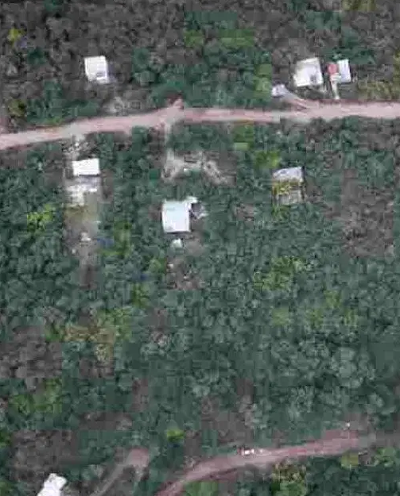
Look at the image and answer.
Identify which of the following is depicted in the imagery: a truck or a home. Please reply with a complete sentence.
The one in the frame is a home.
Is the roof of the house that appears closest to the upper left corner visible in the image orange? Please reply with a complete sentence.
No, from above the roof of the house that appears closest to the upper left corner looks white.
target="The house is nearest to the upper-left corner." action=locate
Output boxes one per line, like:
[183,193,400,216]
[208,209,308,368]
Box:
[84,57,121,84]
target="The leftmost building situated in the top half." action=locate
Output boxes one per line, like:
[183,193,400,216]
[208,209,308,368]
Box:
[66,159,102,207]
